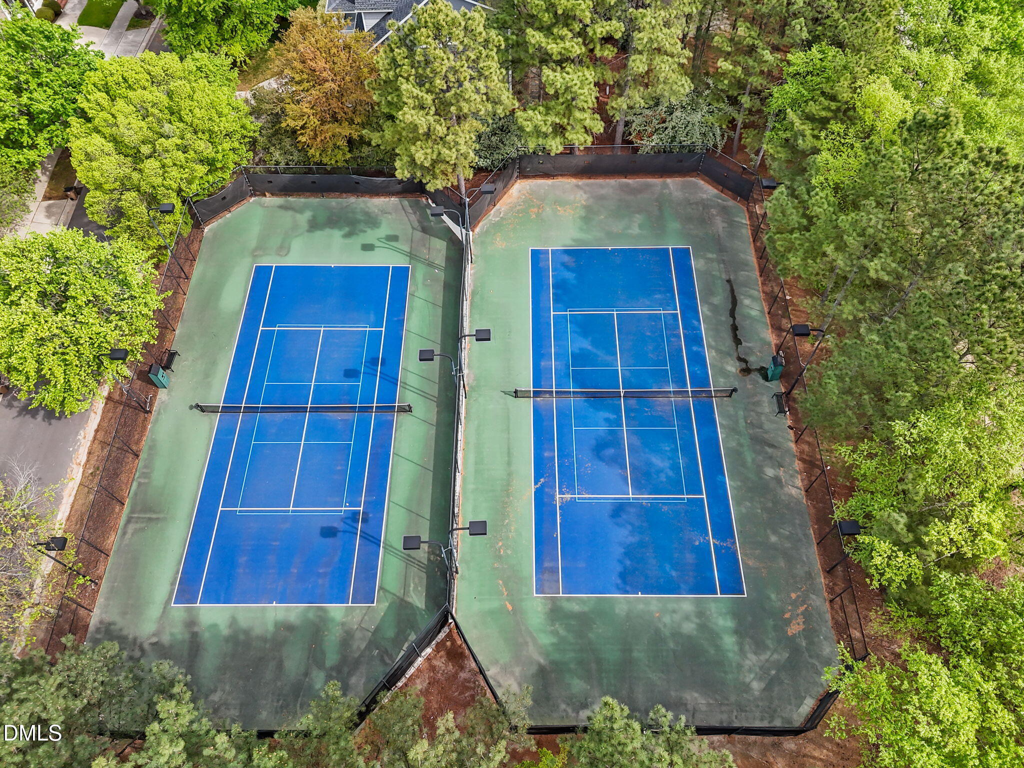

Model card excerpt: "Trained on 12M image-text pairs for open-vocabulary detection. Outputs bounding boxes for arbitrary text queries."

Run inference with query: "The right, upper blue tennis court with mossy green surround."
[454,179,838,726]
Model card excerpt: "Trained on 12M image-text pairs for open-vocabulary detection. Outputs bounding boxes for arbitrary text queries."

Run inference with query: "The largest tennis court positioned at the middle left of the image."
[80,197,467,726]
